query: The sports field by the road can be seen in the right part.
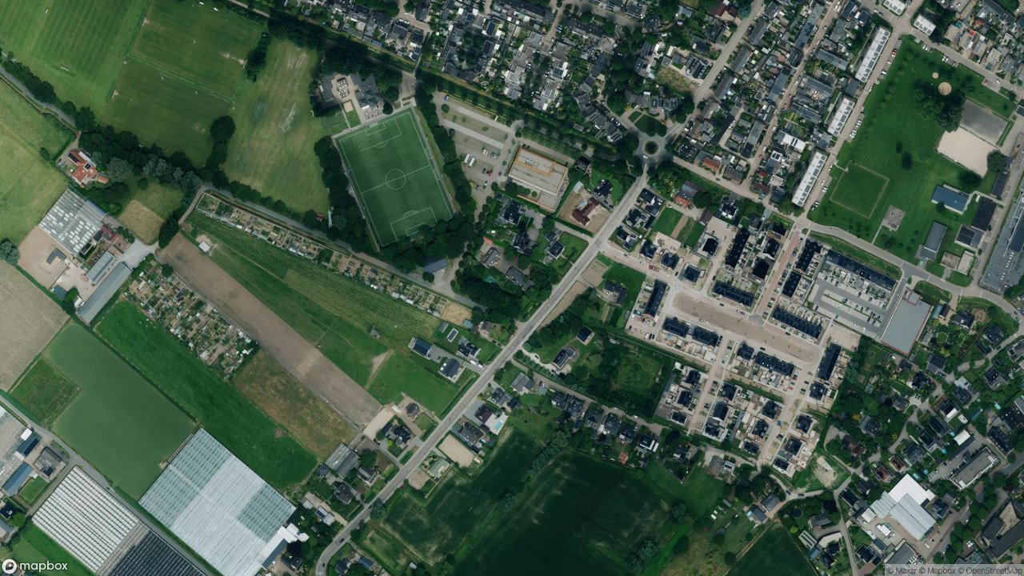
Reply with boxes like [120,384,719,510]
[830,161,890,218]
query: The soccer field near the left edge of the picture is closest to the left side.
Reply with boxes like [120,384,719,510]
[27,3,128,77]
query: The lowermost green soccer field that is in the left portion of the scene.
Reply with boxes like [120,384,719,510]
[334,107,454,248]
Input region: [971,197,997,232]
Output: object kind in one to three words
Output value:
building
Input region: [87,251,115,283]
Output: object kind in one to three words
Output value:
barn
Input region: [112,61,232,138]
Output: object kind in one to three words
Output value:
soccer field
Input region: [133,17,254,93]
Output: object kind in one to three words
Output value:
soccer field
